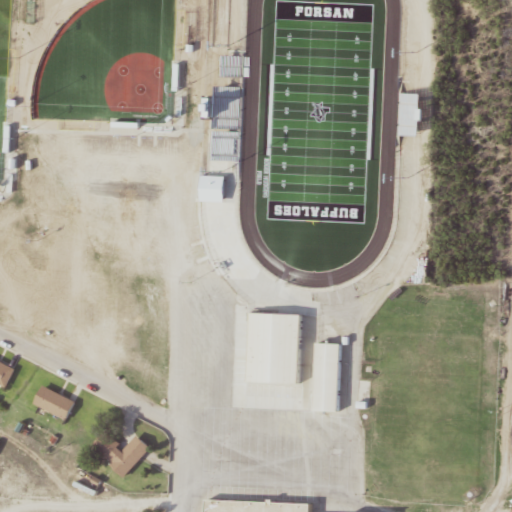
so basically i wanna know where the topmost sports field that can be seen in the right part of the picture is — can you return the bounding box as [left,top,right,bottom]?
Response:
[254,0,386,272]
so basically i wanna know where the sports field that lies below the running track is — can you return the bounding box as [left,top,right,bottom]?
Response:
[356,284,500,502]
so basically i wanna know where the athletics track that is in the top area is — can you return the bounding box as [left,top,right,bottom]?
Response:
[240,0,400,286]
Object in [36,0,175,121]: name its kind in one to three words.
baseball field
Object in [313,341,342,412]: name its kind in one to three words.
building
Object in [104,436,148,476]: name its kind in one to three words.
house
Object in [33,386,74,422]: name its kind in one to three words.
house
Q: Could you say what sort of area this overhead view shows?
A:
sports ground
